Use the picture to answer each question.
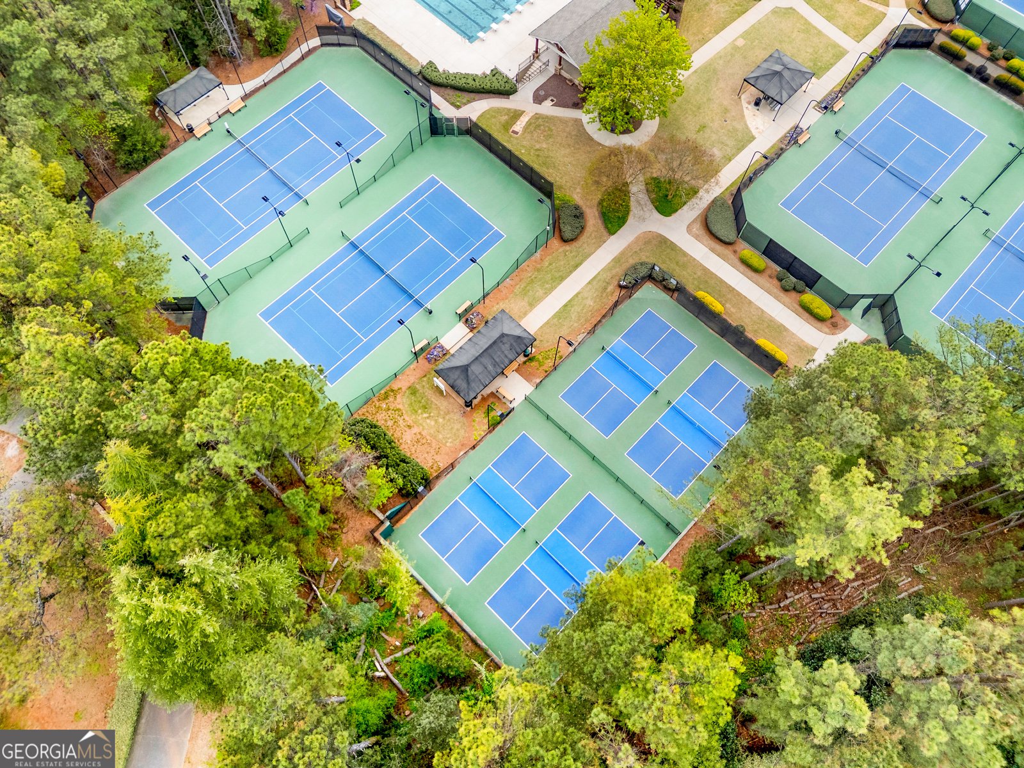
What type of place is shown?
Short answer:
sports ground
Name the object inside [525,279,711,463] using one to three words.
sports court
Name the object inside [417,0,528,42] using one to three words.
swimming pool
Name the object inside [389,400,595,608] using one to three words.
sports court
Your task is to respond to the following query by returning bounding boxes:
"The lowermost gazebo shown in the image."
[434,309,536,404]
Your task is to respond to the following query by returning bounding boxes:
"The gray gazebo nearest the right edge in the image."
[740,49,815,119]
